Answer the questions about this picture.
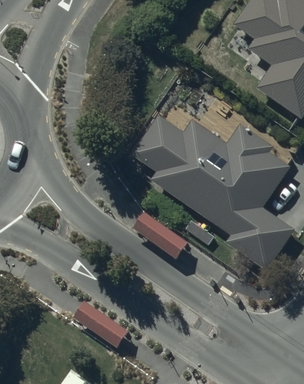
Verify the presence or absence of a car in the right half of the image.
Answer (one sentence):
Yes, there is a car in the right half of the image.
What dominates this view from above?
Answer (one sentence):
The largest share of the image is taken up by paved ground.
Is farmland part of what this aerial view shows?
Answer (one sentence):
No, farmland can't be seen anywhere here.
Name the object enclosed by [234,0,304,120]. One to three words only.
house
